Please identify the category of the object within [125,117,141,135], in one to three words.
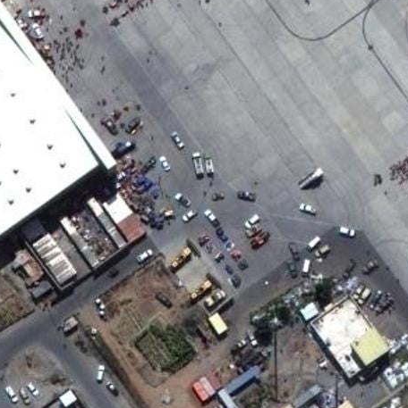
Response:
vehicle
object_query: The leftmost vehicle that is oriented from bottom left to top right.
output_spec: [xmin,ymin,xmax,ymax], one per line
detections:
[61,319,80,334]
